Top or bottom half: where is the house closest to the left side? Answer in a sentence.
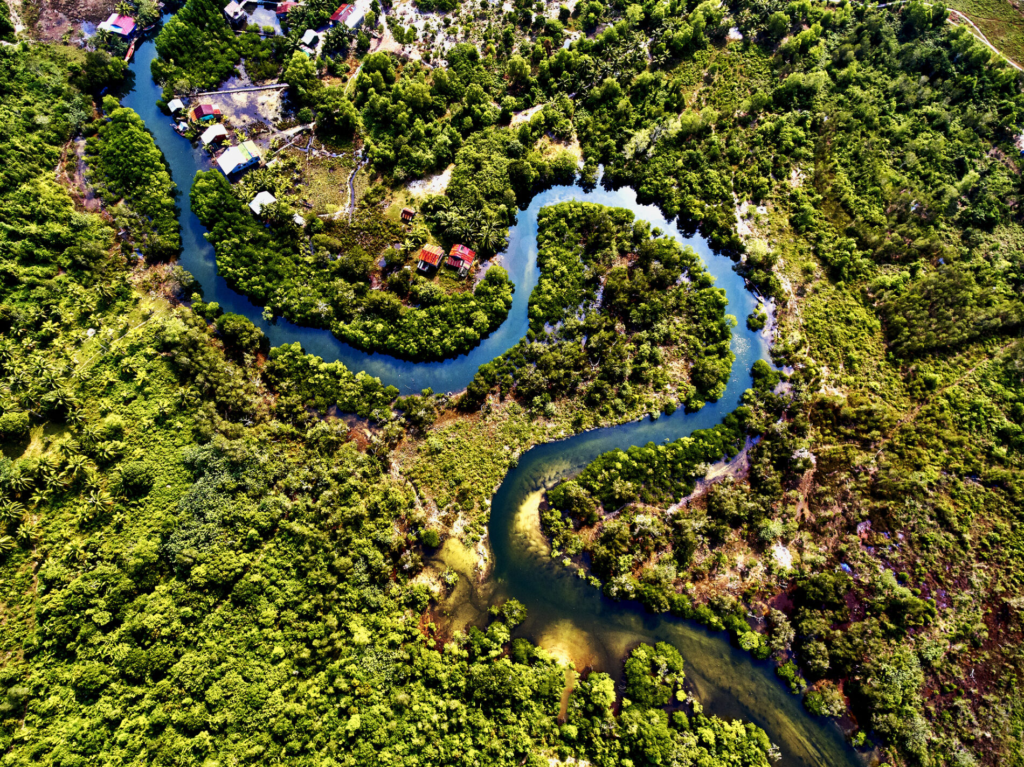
The top half of the photo is where the house closest to the left side is.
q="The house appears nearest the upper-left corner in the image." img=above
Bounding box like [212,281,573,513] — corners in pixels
[97,13,138,40]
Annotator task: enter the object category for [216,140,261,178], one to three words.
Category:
house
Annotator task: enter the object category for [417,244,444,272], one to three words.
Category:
house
